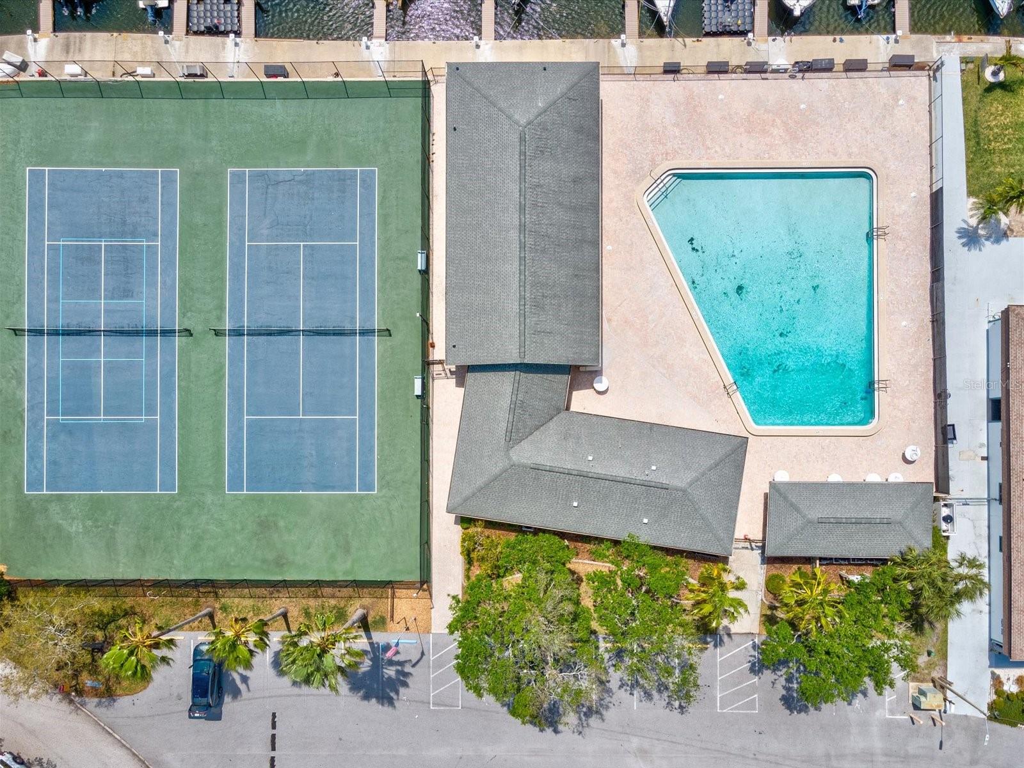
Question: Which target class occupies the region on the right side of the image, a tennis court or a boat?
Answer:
boat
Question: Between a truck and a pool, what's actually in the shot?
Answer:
pool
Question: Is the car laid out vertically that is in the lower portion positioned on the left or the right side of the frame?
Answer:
left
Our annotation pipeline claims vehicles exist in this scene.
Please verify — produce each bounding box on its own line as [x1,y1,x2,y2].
[187,644,222,717]
[0,750,34,768]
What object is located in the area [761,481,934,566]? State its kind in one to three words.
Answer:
building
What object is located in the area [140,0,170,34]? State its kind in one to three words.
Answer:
boat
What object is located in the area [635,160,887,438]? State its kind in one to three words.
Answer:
swimming pool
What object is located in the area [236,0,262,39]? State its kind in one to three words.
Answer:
pier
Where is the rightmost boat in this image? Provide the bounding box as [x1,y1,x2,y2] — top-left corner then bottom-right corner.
[988,0,1010,22]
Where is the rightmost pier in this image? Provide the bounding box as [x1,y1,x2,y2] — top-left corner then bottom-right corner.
[885,0,915,34]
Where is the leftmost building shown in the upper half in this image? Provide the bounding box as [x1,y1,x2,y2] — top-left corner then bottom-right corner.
[445,61,606,369]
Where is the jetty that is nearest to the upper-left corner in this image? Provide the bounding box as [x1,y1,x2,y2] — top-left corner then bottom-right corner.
[33,0,64,33]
